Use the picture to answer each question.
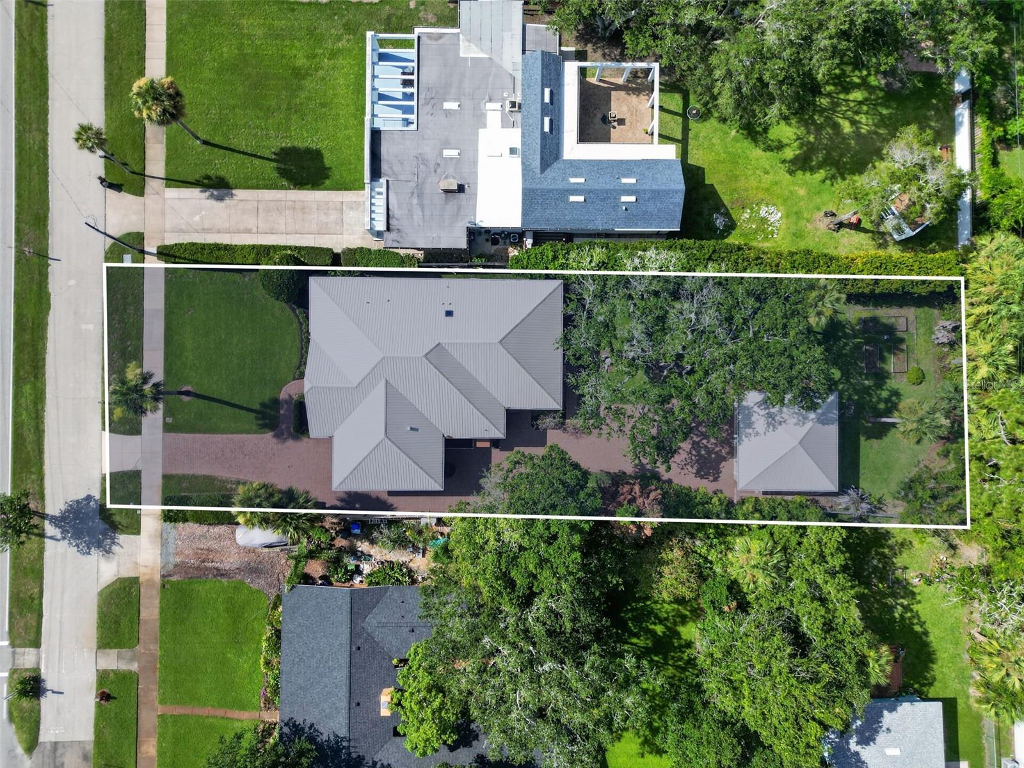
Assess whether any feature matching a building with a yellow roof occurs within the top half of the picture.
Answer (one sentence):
No, there is no building with a yellow roof within the top half of the picture.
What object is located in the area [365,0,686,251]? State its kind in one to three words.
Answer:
house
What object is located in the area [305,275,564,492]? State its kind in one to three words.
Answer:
house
